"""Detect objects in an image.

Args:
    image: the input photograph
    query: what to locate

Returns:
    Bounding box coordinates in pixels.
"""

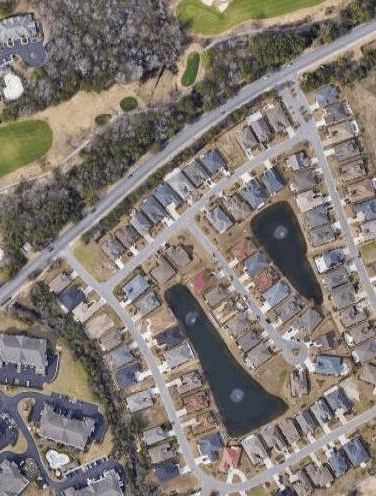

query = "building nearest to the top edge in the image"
[0,14,38,43]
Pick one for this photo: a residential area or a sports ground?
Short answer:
residential area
